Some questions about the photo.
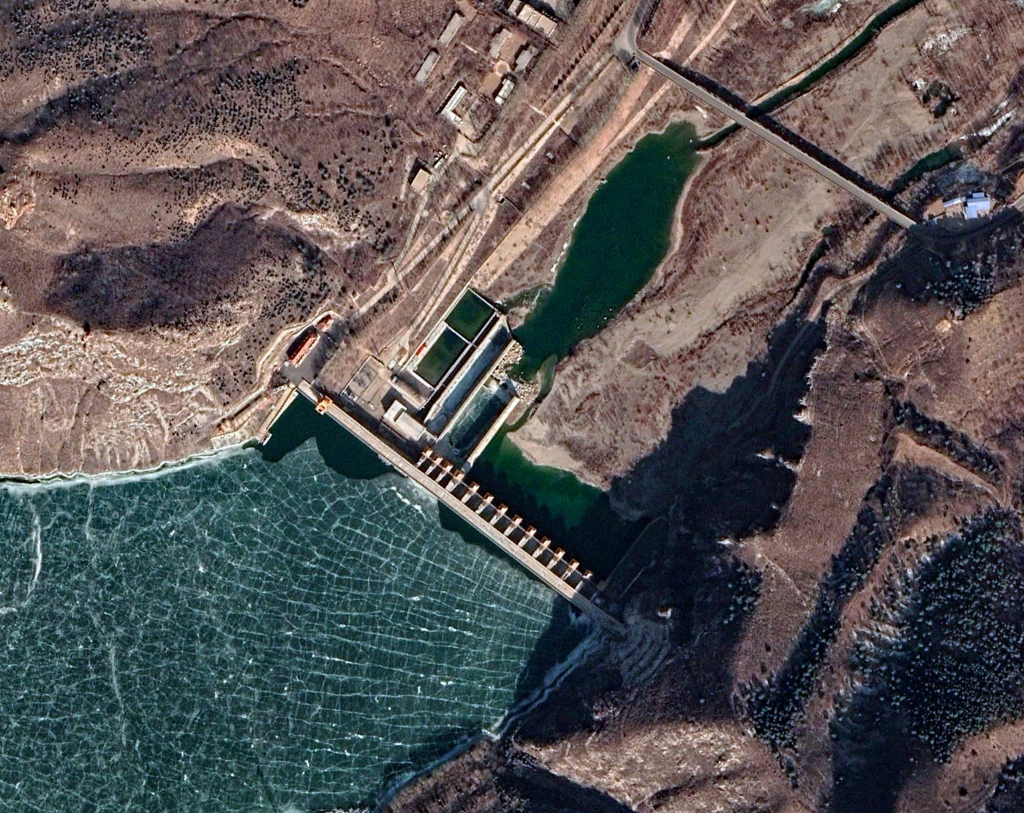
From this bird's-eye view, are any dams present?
Yes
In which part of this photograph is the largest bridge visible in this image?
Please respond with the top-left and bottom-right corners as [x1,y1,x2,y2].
[633,48,915,230]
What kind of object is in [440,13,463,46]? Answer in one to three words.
building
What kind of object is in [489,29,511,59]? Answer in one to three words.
building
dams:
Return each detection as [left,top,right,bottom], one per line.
[297,380,627,635]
